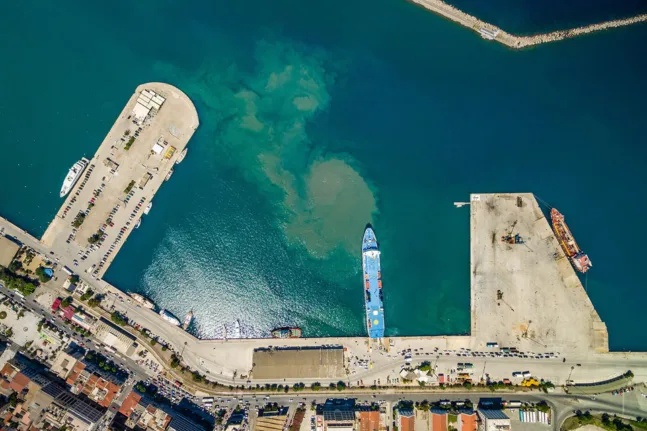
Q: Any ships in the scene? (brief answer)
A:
Yes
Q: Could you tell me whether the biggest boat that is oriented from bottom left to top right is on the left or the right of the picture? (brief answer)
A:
left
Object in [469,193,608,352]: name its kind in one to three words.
pier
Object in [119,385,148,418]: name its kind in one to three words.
building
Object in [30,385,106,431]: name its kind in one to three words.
building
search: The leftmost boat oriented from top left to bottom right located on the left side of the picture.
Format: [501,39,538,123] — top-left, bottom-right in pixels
[130,291,156,311]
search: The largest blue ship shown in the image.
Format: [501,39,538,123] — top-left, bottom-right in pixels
[361,222,391,341]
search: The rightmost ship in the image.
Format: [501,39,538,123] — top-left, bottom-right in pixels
[533,194,591,291]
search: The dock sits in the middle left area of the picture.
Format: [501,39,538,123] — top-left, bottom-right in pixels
[40,82,200,279]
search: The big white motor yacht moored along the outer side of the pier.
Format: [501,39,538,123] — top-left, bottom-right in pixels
[62,156,90,197]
